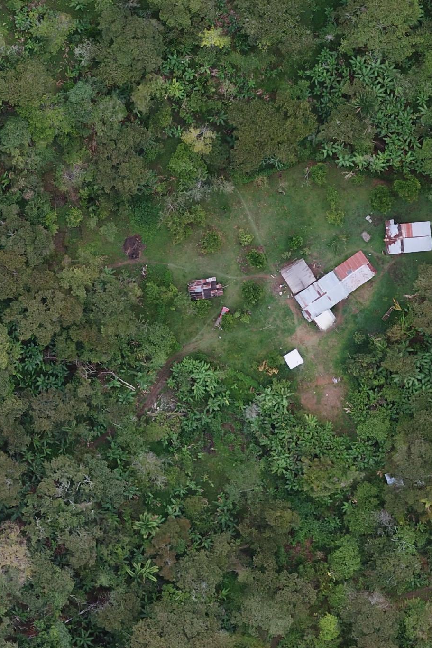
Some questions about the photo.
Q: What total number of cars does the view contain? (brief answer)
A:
none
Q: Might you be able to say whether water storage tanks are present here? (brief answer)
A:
No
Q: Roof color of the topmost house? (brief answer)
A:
white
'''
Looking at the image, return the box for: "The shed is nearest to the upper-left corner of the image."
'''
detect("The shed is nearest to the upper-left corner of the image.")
[189,277,228,300]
